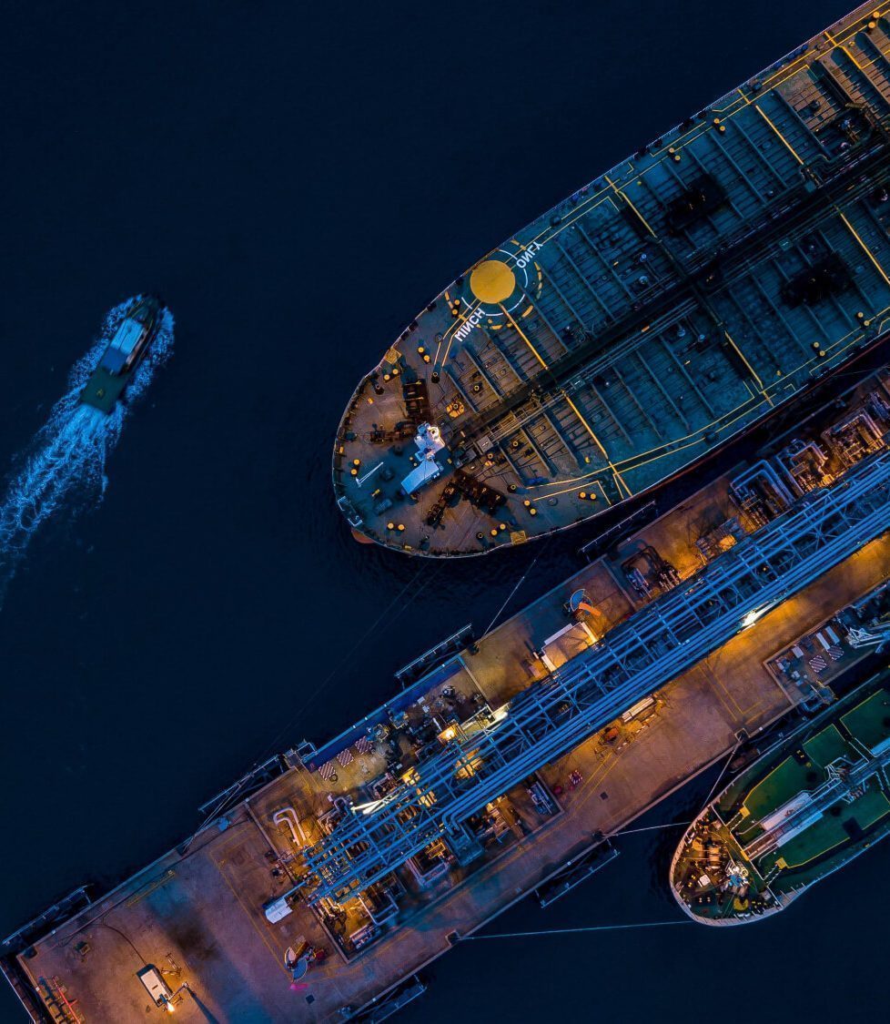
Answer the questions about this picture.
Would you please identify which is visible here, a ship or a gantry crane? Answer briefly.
ship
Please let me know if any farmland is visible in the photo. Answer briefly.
No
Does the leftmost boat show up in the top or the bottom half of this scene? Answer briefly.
top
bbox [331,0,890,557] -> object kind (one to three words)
ship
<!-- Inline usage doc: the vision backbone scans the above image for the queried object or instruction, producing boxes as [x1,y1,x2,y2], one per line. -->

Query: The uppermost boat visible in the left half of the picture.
[80,293,162,415]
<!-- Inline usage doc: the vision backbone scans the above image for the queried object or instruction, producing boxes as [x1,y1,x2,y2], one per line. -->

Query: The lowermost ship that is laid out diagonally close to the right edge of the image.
[670,657,890,926]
